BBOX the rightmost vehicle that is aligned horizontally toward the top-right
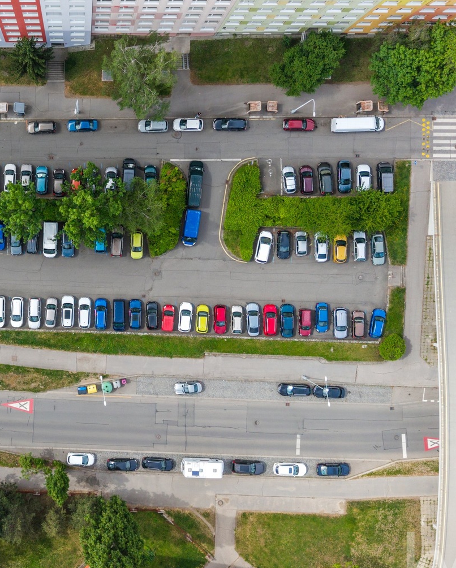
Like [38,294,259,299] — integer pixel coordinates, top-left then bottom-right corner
[329,115,382,133]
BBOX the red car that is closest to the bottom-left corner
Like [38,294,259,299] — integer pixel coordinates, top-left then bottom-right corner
[161,304,176,332]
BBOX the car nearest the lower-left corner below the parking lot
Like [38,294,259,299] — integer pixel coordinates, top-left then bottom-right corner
[67,452,94,468]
